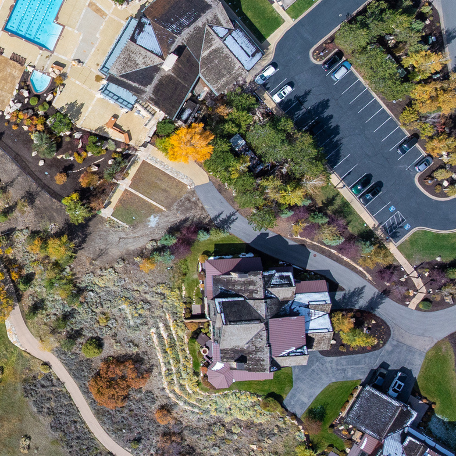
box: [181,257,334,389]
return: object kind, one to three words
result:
house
